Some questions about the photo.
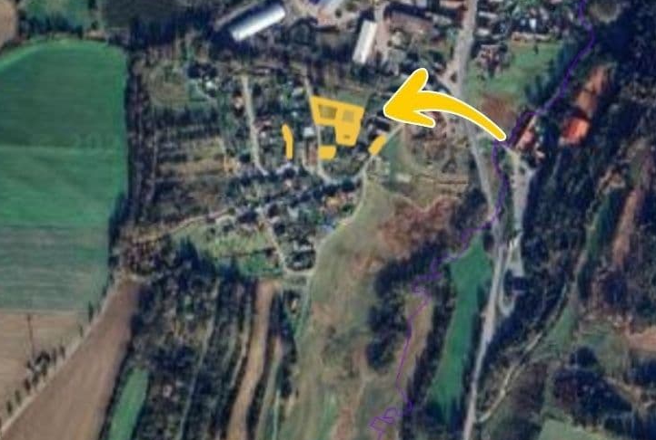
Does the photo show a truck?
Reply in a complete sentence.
No, I can't see a single truck in this photo.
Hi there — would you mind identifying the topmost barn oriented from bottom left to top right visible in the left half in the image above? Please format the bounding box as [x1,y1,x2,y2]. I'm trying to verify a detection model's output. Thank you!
[228,0,286,40]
